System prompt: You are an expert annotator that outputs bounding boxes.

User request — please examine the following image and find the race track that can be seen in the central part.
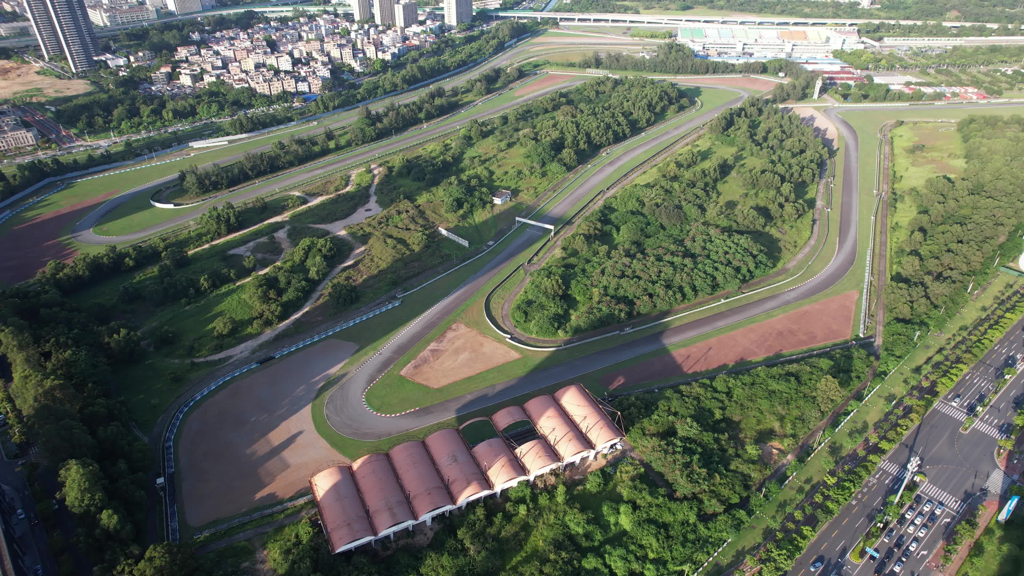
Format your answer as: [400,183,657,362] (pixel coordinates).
[70,42,1024,439]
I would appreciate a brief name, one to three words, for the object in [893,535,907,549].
car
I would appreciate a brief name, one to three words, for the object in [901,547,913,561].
vehicle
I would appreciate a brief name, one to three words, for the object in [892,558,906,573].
car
